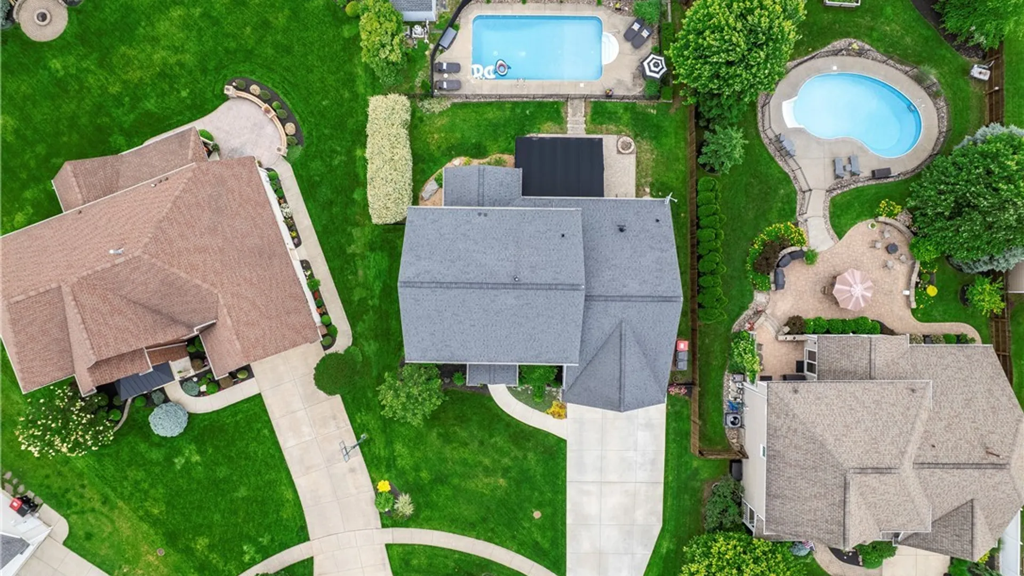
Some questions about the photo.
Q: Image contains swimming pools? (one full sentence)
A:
Yes, I can see a swimming pool in this picture.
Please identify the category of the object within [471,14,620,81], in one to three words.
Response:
swimming pool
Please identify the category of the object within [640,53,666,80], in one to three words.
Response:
umbrella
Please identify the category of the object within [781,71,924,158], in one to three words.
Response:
swimming pool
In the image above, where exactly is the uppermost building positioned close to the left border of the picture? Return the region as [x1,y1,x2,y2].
[0,126,326,402]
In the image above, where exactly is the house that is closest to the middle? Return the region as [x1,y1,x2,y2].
[397,165,684,412]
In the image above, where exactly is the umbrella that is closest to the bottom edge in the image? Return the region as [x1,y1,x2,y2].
[829,268,872,310]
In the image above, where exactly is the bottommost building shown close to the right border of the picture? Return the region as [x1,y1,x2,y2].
[743,334,1024,562]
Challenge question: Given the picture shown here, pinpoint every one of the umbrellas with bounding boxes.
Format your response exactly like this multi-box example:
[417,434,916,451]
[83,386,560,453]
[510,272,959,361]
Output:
[640,53,666,80]
[829,268,872,310]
